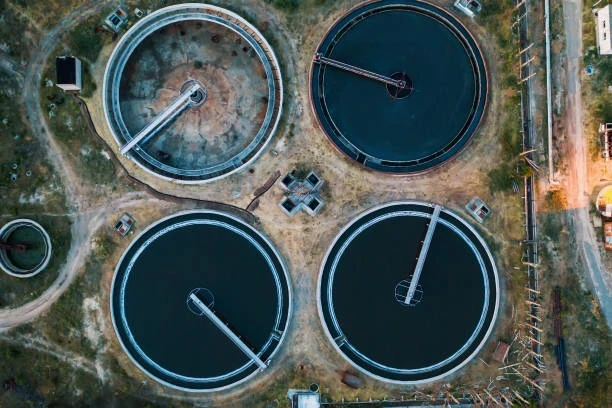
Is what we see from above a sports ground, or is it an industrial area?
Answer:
industrial area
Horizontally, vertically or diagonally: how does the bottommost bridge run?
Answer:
diagonally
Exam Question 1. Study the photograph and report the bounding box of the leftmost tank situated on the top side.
[103,4,283,183]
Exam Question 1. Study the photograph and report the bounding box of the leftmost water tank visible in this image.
[0,219,53,278]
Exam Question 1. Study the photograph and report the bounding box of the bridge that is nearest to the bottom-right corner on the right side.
[404,204,441,305]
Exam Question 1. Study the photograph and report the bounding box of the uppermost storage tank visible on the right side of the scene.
[309,0,488,176]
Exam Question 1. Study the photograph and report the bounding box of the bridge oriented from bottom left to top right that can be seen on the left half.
[118,82,201,156]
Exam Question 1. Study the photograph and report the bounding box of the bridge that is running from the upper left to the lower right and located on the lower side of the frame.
[189,293,269,370]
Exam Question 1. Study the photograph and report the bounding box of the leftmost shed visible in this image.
[56,57,82,92]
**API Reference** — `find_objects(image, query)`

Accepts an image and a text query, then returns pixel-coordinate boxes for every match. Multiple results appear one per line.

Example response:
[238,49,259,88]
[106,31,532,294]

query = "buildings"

[290,386,322,408]
[595,4,612,53]
[56,57,82,92]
